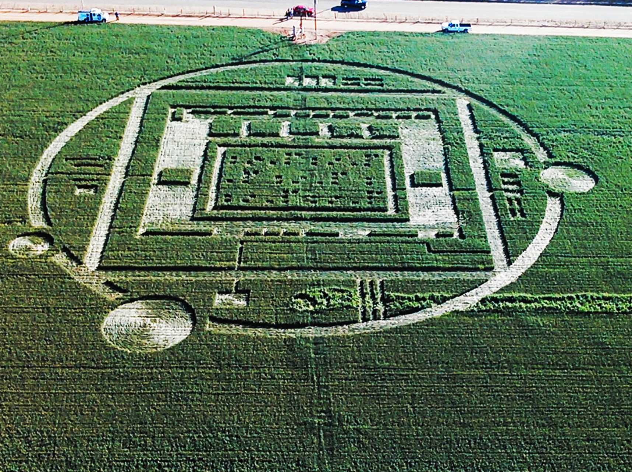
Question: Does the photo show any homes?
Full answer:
No, the picture doesn't show any home.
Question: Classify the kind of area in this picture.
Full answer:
This looks like farmland.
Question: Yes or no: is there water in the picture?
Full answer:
No, the scene doesn't show any water.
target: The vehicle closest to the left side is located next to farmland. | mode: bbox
[77,6,110,21]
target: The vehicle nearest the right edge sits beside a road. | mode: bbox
[443,20,471,32]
